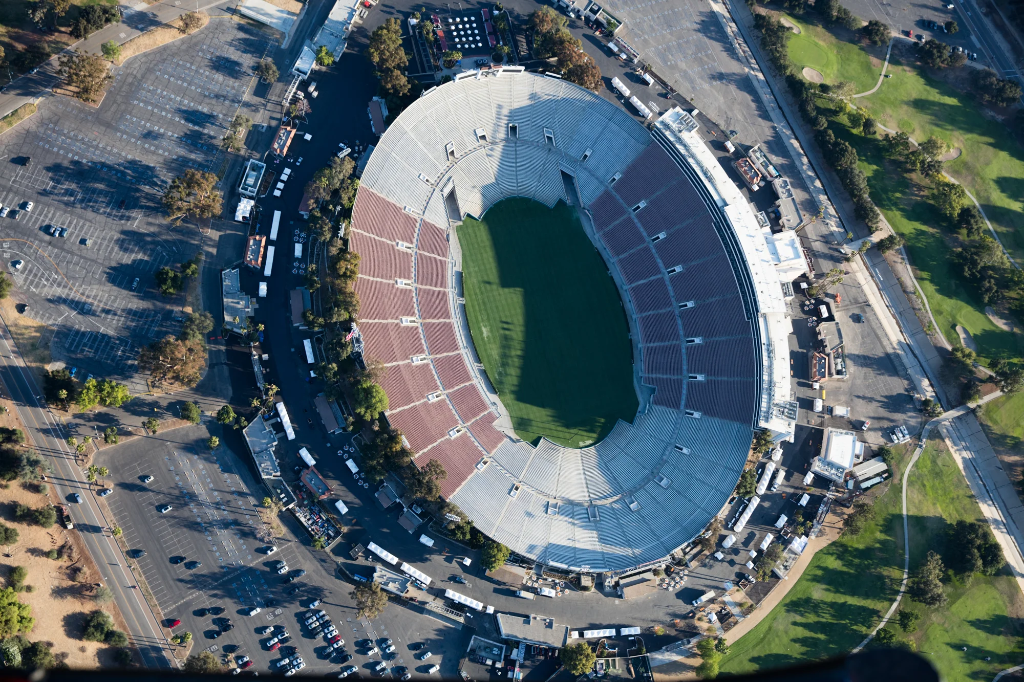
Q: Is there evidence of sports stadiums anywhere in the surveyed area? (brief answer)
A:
Yes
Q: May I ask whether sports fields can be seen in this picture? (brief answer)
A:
Yes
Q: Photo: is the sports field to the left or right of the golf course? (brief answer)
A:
to the left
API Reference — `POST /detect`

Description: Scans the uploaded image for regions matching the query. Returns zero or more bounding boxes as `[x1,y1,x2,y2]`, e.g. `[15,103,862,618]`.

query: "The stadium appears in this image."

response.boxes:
[347,70,761,579]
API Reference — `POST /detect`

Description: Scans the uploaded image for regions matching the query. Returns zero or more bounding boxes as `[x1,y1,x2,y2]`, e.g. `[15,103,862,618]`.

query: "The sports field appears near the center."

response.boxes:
[458,199,638,447]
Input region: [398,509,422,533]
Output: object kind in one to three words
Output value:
shed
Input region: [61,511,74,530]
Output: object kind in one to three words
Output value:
vehicle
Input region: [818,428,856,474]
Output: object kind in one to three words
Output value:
building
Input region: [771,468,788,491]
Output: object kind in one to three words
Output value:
vehicle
